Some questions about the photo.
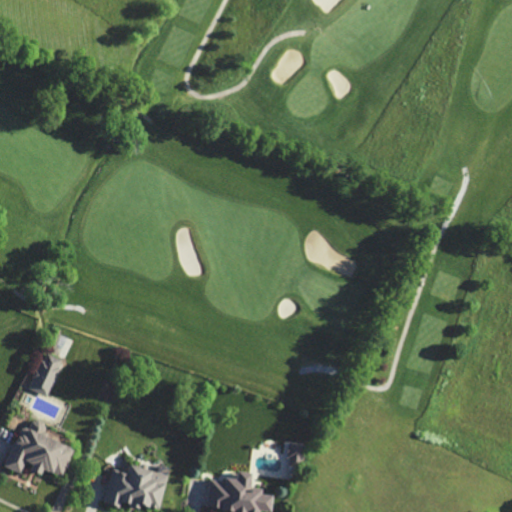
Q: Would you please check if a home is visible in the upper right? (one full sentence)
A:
No, no home is visible in the upper right.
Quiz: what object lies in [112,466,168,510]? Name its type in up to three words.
house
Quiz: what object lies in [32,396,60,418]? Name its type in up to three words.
swimming pool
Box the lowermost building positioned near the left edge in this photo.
[4,432,74,477]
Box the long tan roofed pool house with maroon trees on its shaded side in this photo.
[26,359,66,396]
